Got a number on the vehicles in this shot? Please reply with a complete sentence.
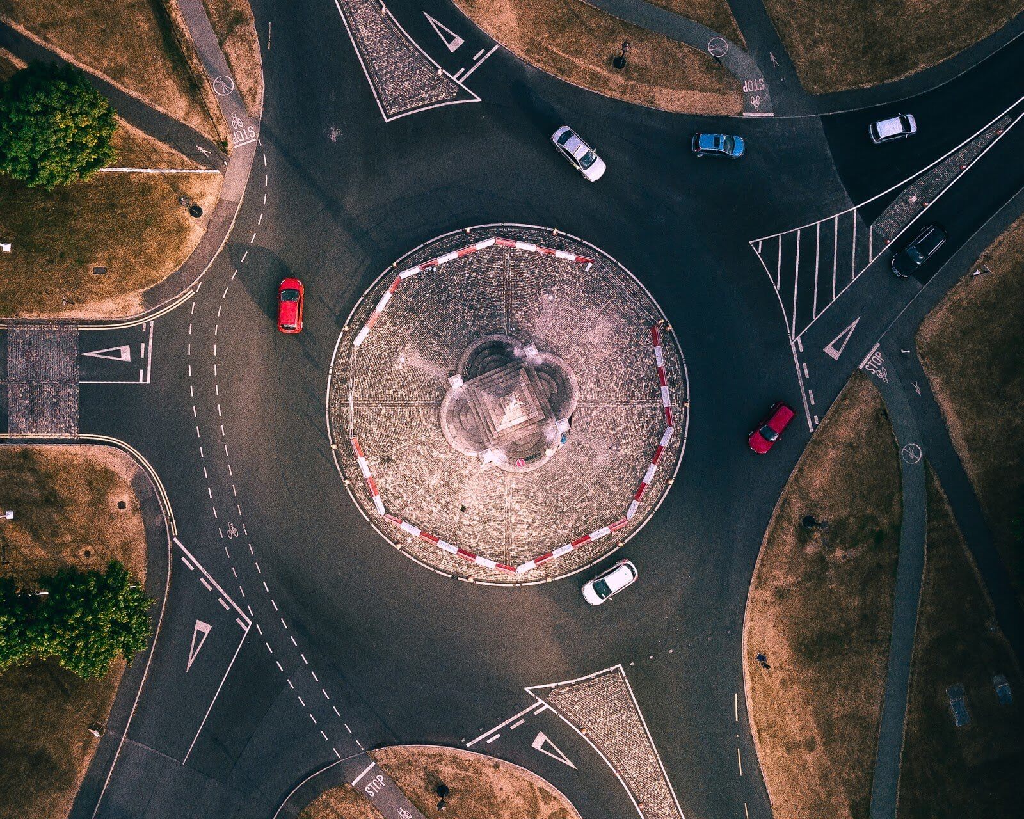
My tally gives 7 vehicles in this view.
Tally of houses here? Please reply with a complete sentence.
There are no houses in the image.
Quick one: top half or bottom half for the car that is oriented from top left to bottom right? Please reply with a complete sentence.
It is in the top half that the car that is oriented from top left to bottom right appears.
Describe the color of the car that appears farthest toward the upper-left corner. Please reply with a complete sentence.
The color of the car that appears farthest toward the upper-left corner is red.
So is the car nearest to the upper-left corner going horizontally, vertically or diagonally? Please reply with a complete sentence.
In this picture, the car nearest to the upper-left corner is oriented vertically.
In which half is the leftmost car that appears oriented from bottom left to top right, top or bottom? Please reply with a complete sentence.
Seen from above, the leftmost car that appears oriented from bottom left to top right lies in the bottom half of the view.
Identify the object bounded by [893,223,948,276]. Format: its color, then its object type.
black car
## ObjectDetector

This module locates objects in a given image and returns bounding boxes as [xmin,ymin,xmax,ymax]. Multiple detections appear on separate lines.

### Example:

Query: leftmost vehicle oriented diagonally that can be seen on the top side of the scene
[553,126,603,181]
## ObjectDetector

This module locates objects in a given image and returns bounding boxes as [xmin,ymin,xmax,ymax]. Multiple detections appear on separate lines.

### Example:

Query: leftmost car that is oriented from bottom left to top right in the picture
[583,560,638,602]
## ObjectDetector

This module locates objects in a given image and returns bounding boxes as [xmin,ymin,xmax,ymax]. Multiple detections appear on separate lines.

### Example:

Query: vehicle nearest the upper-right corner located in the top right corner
[868,113,915,144]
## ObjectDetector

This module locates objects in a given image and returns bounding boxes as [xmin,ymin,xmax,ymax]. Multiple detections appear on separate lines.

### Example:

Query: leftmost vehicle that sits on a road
[276,278,305,334]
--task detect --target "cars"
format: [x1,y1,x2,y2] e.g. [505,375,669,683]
[553,126,603,181]
[868,113,915,144]
[750,401,795,454]
[893,223,948,276]
[583,560,638,602]
[692,131,745,160]
[276,278,305,334]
